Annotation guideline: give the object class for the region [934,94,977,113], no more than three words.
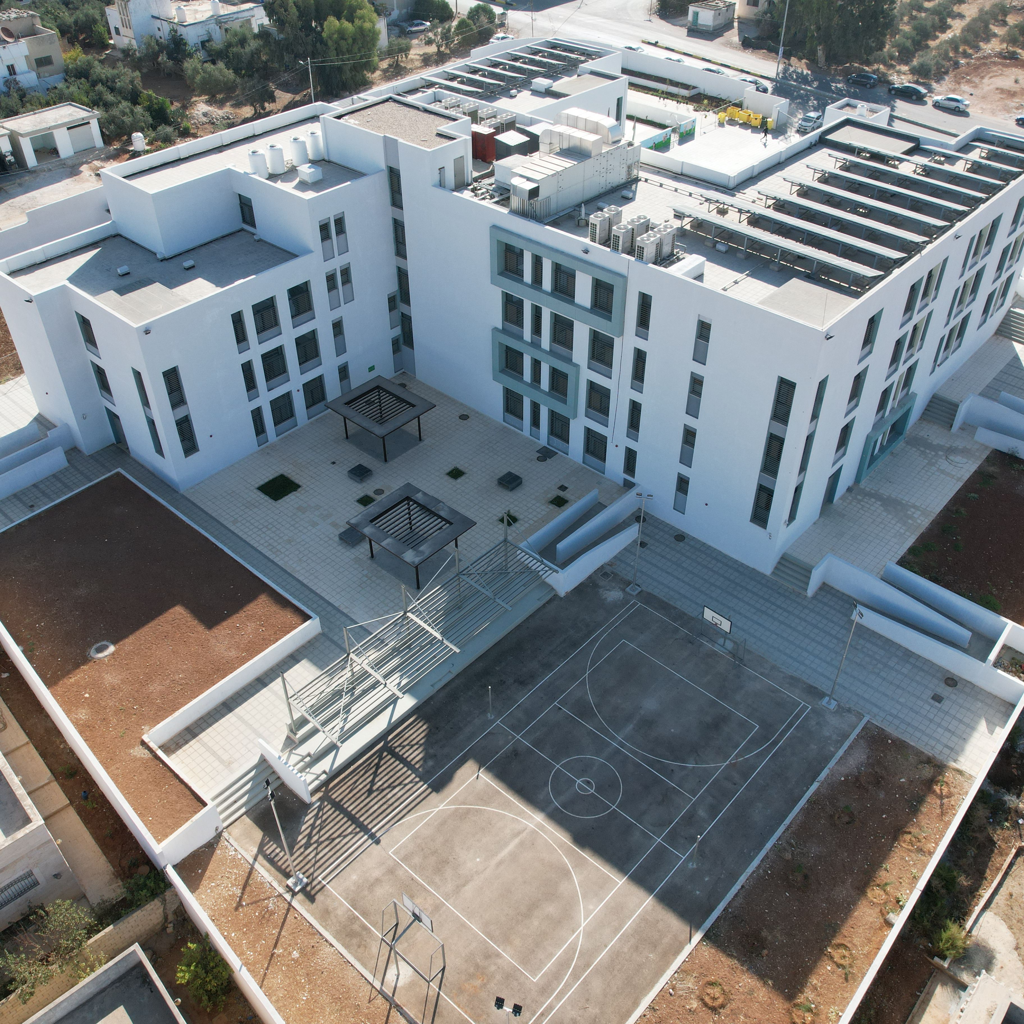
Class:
car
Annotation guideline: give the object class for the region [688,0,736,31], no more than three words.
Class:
building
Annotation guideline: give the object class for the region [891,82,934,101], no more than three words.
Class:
car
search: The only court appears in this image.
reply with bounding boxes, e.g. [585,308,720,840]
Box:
[222,564,866,1024]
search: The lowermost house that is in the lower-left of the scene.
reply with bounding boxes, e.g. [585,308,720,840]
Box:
[21,943,185,1024]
